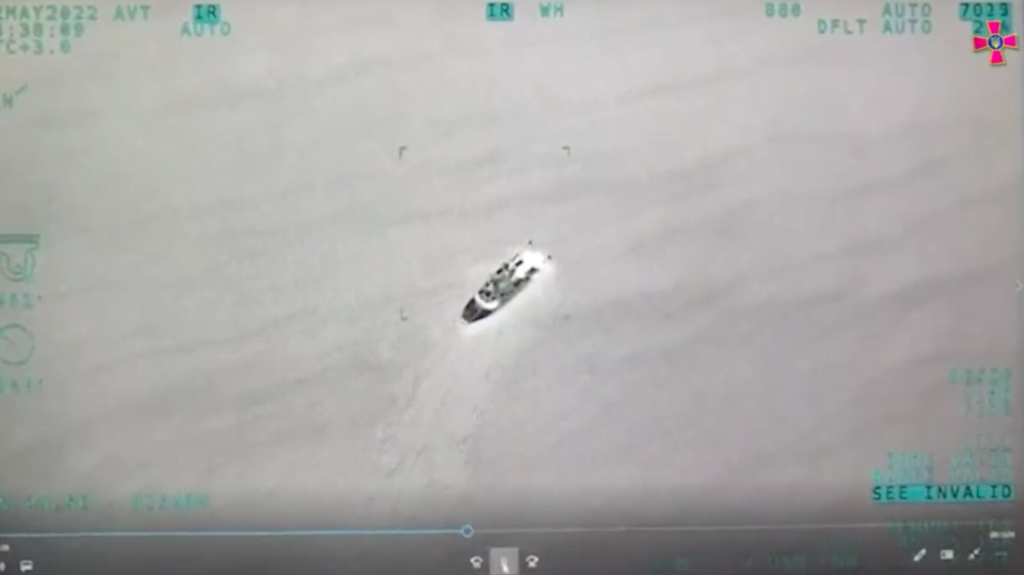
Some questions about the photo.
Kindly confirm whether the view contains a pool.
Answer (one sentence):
No, the picture doesn't show any pool.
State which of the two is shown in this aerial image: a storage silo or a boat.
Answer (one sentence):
The one in the frame is a boat.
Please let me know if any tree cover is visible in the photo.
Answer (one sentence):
No, the picture contains no tree cover.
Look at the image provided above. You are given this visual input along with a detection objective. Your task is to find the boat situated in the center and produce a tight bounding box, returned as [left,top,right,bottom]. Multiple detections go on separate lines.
[461,243,550,323]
